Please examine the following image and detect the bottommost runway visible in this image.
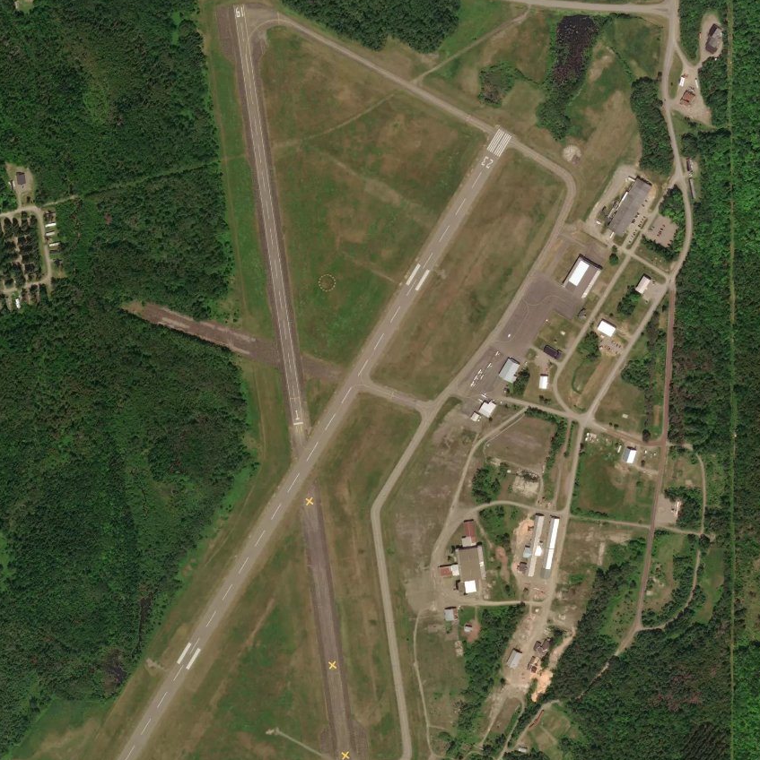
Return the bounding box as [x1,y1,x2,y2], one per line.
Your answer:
[303,478,368,760]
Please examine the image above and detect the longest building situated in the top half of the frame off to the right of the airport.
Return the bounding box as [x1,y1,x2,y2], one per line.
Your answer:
[609,176,651,238]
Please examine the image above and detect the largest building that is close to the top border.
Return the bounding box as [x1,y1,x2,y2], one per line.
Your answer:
[704,27,723,56]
